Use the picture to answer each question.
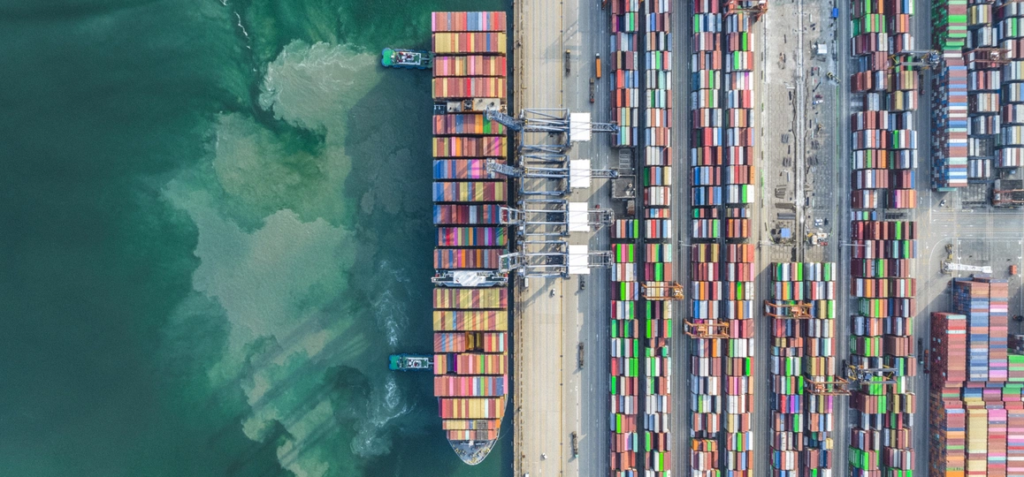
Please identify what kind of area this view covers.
port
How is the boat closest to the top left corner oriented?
from side to side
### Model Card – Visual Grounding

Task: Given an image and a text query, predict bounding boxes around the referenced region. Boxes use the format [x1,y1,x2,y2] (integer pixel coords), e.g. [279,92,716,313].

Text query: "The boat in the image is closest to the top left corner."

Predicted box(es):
[382,48,434,70]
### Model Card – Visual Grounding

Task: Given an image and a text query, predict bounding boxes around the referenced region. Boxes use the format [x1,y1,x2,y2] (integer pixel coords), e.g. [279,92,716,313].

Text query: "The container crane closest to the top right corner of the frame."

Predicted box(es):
[963,45,1012,68]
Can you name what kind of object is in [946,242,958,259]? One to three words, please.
vehicle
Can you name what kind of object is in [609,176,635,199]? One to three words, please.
building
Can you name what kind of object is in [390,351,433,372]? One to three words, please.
boat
